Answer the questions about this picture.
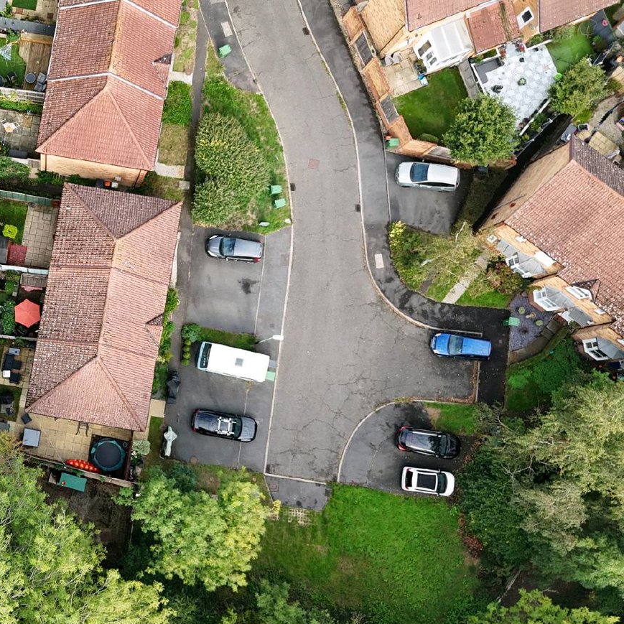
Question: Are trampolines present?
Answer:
Yes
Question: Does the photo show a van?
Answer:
Yes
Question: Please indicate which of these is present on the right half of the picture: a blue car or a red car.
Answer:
blue car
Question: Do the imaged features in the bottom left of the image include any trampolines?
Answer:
Yes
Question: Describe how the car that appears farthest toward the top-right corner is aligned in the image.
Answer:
from left to right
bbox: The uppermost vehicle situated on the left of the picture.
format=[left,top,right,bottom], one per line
[204,230,265,265]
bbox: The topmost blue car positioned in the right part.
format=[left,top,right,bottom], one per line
[428,329,495,363]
